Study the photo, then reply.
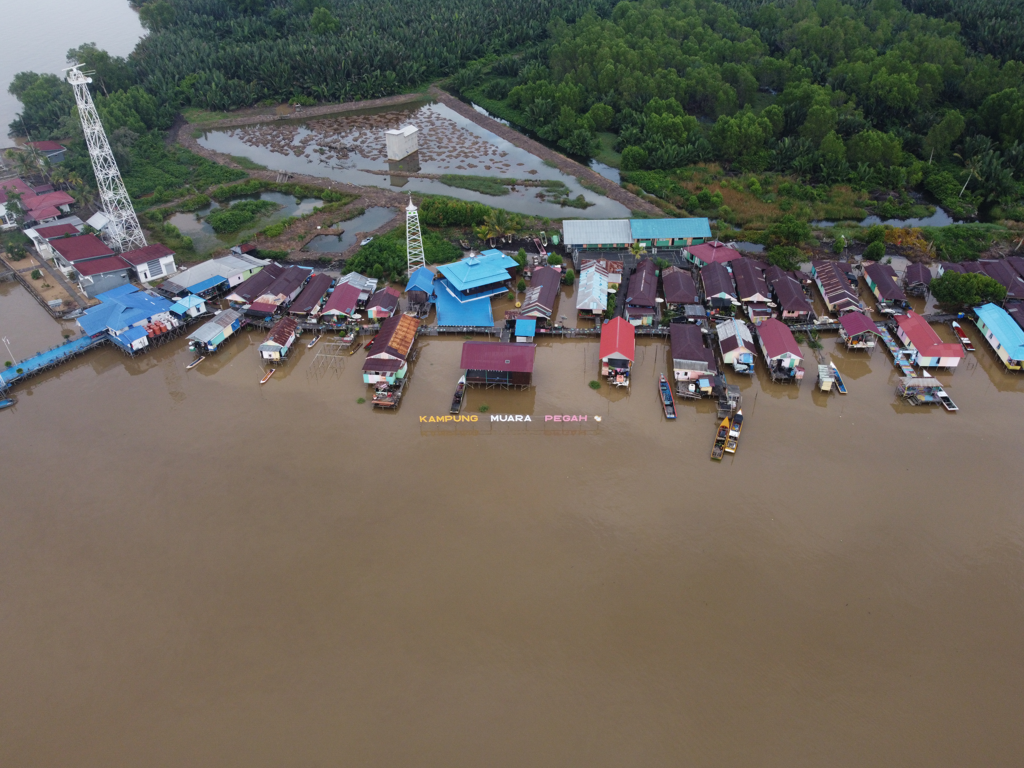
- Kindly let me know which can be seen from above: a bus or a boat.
boat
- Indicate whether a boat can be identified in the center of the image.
Yes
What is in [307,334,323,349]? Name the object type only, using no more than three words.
boat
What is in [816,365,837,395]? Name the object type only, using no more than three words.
shed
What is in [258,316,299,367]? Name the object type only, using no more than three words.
house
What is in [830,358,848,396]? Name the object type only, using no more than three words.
boat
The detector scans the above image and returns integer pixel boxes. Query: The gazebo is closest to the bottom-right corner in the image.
[897,376,943,407]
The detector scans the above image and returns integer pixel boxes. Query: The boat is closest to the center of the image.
[449,372,466,416]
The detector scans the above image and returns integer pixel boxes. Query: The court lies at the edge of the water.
[573,250,689,320]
